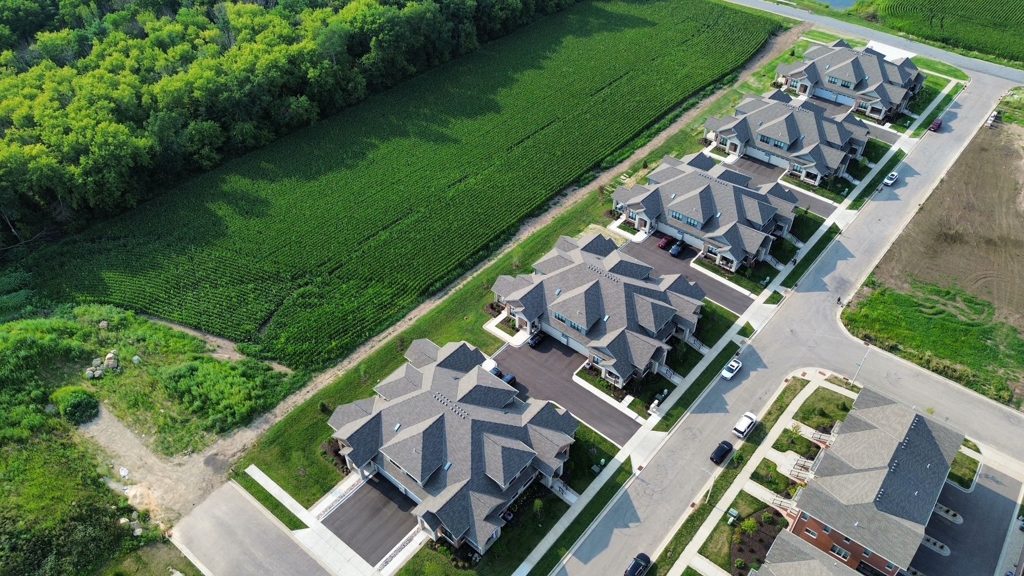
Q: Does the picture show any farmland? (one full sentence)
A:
Yes, farmland can be seen from above here.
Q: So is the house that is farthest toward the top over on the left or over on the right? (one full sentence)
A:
The house that is farthest toward the top appears in the right half of the scene.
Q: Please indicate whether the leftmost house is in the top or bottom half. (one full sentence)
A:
The bottom half of the photo is where the leftmost house is.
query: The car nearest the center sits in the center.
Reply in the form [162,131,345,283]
[526,330,550,351]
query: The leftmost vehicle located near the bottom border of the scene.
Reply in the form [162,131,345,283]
[623,545,652,576]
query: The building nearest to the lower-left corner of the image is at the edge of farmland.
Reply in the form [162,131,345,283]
[323,343,576,559]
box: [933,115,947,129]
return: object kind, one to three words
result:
car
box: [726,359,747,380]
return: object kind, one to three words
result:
car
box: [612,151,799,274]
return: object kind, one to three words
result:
house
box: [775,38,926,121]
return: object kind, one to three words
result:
house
